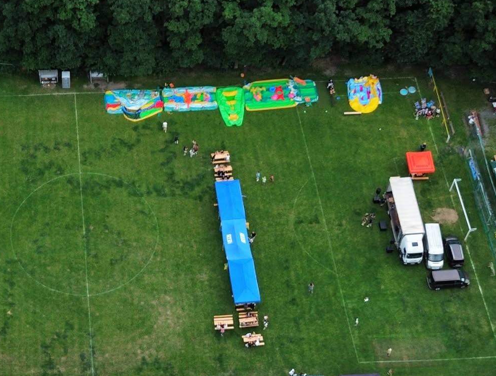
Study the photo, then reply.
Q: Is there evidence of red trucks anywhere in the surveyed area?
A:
No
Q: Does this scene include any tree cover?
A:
Yes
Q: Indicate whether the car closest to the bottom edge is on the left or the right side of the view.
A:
right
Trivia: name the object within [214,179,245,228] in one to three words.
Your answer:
tent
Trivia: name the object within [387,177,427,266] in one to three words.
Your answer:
truck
